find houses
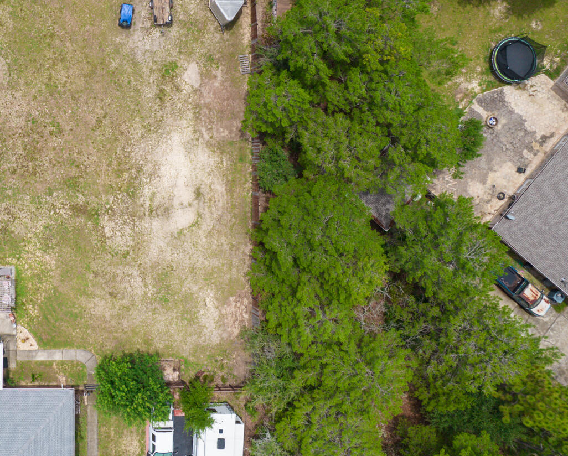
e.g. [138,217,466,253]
[0,382,75,456]
[481,123,568,303]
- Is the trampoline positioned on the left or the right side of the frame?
right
